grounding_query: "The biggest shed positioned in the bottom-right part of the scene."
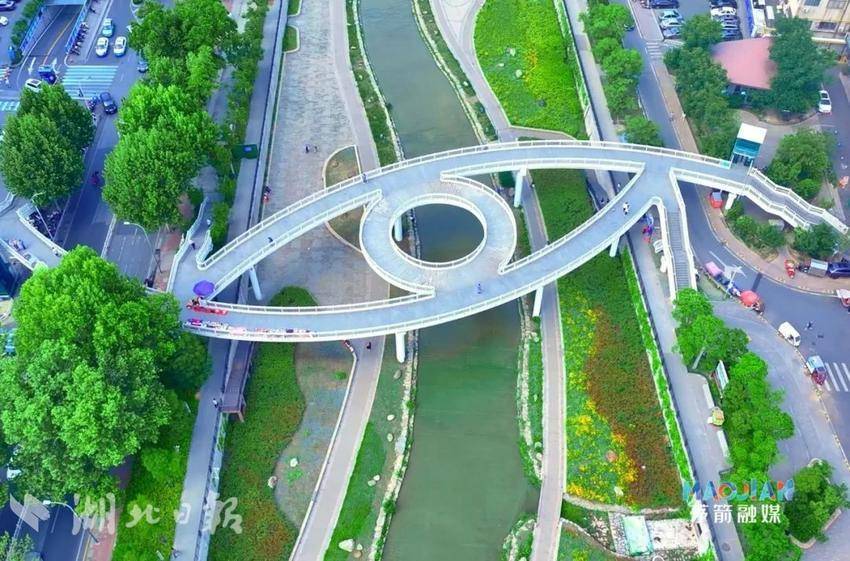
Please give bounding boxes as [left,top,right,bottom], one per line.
[623,515,652,553]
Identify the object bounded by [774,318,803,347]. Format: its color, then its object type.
white vehicle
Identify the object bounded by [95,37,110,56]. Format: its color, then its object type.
white car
